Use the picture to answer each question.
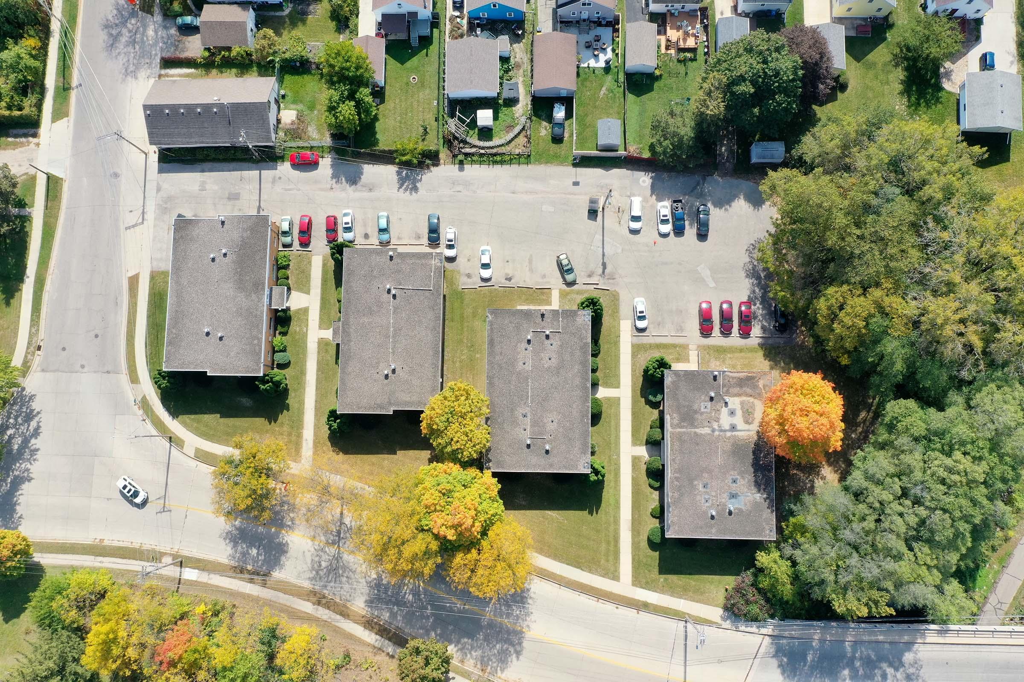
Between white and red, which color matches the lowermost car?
white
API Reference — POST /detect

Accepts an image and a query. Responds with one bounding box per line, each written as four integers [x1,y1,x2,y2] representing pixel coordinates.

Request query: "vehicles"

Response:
[443,223,458,259]
[737,301,754,336]
[452,0,464,7]
[773,301,790,335]
[550,100,566,139]
[296,214,313,247]
[695,203,711,236]
[718,300,735,335]
[556,251,577,285]
[323,214,339,243]
[633,297,649,331]
[340,210,357,243]
[628,196,644,232]
[288,150,321,166]
[656,202,672,235]
[375,211,391,244]
[426,213,441,245]
[478,246,493,280]
[114,476,148,505]
[279,215,296,247]
[979,47,997,70]
[671,197,688,233]
[698,300,715,335]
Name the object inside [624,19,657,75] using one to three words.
building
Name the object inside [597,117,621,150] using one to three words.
shed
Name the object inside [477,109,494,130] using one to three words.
shed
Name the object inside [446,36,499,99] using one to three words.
building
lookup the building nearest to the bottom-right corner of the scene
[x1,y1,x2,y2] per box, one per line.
[660,370,776,540]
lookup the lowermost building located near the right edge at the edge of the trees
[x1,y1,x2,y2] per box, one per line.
[956,69,1023,136]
